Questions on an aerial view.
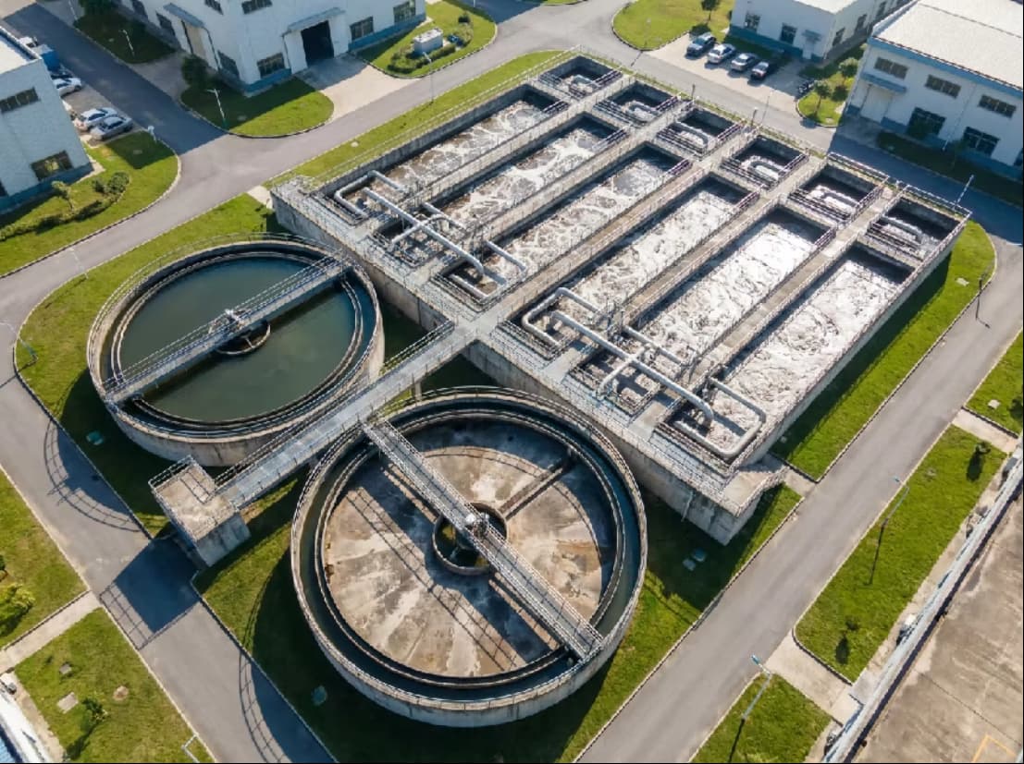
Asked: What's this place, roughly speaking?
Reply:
industrial area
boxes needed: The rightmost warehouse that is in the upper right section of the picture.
[847,0,1024,180]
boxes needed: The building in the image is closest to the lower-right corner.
[828,462,1024,764]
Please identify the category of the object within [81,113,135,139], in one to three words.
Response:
car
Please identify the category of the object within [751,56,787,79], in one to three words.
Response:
car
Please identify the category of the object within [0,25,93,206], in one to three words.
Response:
building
